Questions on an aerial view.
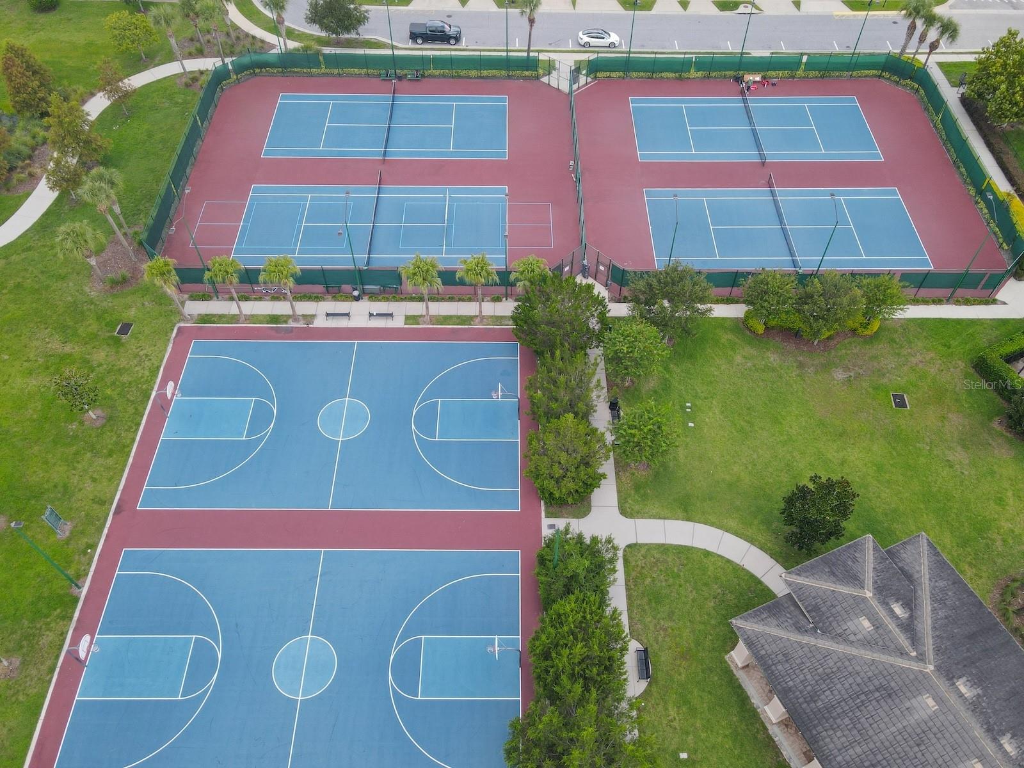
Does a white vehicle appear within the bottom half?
No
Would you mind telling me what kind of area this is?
sports ground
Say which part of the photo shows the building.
bottom right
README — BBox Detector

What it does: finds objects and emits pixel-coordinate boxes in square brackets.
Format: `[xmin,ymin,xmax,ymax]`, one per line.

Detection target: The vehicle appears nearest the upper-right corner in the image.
[578,28,620,47]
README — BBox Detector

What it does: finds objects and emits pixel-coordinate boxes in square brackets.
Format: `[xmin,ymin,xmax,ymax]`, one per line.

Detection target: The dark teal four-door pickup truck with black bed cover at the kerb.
[408,21,462,44]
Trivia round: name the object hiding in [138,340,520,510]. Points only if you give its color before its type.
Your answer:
blue basketball court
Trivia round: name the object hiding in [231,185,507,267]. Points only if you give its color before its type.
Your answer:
blue tennis court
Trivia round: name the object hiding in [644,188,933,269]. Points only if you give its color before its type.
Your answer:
blue tennis court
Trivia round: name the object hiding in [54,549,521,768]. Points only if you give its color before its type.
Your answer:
blue basketball court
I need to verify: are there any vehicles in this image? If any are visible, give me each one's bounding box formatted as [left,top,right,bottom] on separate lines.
[578,28,620,47]
[408,21,462,44]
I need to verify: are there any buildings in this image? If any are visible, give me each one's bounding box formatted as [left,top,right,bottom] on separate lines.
[724,532,1024,768]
